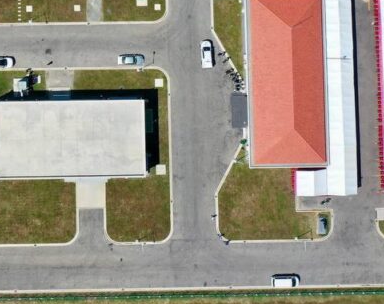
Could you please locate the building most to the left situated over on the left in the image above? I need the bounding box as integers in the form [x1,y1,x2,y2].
[0,92,147,185]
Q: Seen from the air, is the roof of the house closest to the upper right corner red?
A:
Yes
